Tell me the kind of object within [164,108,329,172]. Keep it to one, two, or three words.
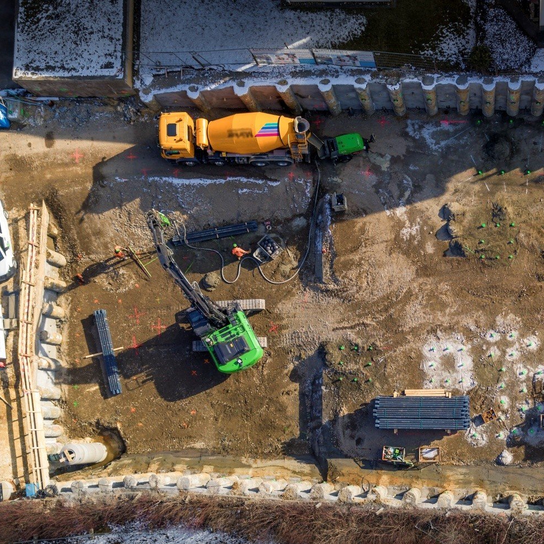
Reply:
truck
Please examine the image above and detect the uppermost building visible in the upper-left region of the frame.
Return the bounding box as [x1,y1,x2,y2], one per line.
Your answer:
[12,0,156,105]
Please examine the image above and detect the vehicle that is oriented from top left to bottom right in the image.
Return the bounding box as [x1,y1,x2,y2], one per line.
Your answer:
[154,216,272,372]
